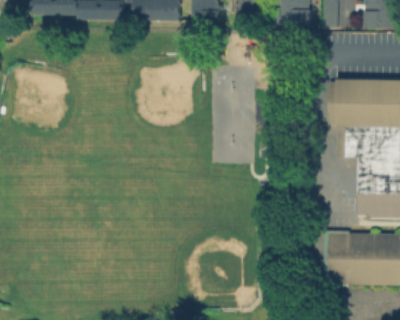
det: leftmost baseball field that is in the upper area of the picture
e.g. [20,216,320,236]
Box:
[0,57,83,142]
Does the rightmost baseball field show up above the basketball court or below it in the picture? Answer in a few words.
below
